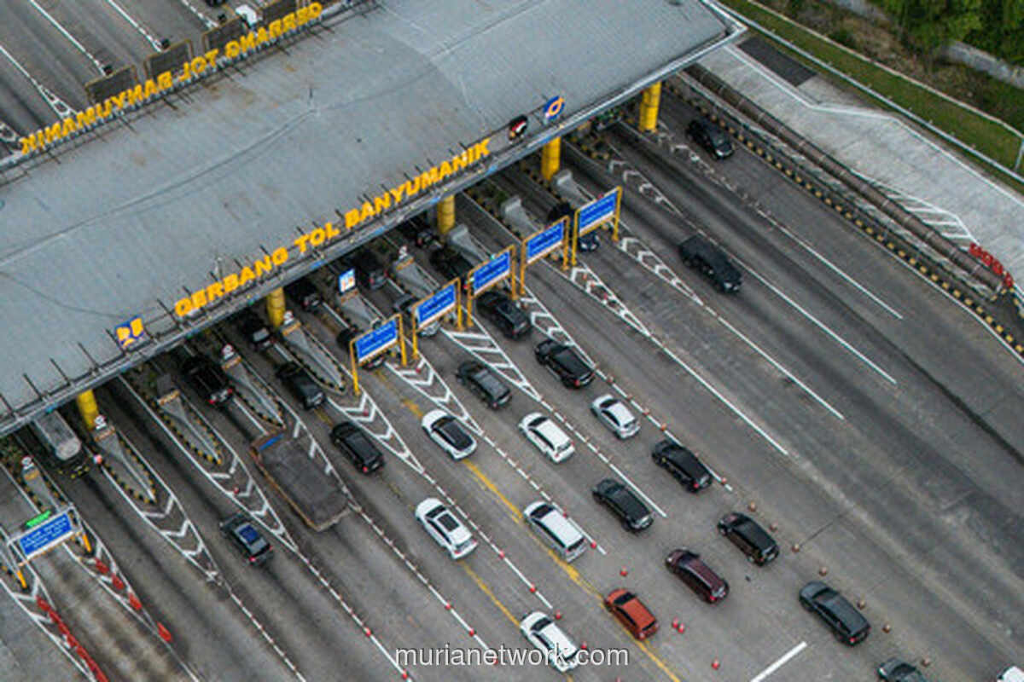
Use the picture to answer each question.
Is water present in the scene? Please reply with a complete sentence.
No, water can't be seen anywhere here.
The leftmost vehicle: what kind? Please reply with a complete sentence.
It looks like the leftmost vehicle is a truck.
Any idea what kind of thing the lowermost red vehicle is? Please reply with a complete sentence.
I'd say the lowermost red vehicle is an automobile.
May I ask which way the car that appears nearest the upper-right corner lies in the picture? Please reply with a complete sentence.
Seen from above, the car that appears nearest the upper-right corner lies on a diagonal.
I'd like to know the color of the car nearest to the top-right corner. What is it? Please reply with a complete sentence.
The car nearest to the top-right corner looks black in the image.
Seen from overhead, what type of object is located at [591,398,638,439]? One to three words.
car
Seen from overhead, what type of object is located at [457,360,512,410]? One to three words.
car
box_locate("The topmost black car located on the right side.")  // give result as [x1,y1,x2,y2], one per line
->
[685,115,733,157]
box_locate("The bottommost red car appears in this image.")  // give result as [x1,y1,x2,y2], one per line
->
[606,591,658,641]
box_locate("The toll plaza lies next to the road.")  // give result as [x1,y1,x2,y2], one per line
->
[0,0,745,441]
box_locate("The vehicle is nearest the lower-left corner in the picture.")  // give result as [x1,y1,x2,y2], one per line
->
[30,413,94,481]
